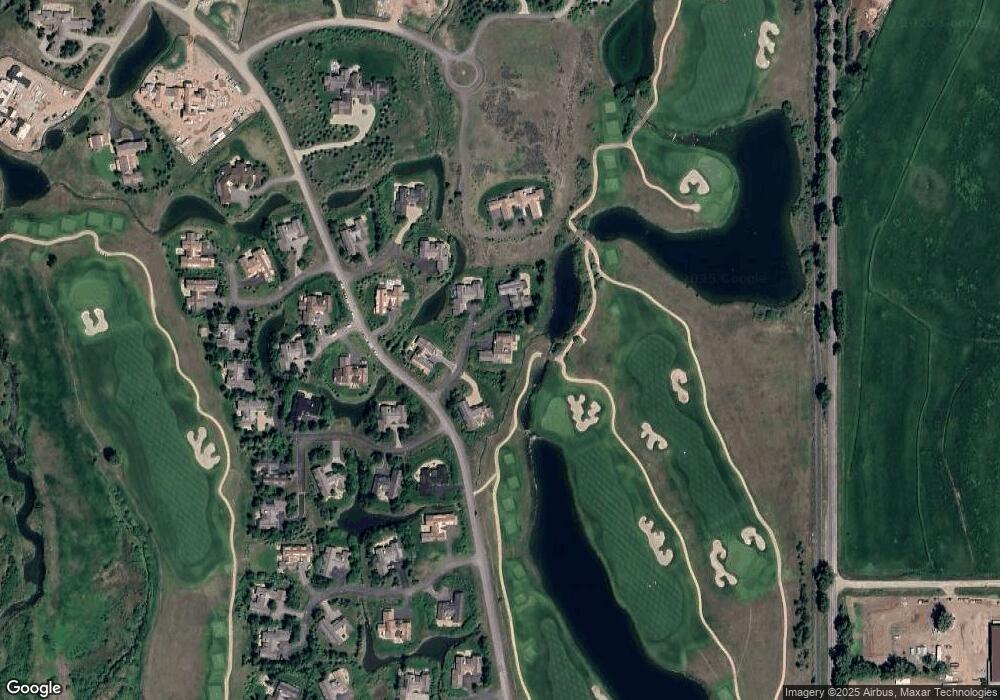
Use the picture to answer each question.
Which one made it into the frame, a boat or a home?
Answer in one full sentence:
The image shows a home.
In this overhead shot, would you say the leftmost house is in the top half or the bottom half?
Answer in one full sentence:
Seen from above, the leftmost house lies in the top half of the view.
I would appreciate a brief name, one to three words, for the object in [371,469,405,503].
house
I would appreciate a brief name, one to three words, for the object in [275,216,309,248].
house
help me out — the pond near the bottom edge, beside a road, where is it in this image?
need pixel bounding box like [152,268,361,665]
[363,612,477,700]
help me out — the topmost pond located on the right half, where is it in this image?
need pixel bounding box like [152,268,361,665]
[603,0,656,86]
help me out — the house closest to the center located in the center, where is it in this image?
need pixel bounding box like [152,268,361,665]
[479,332,521,365]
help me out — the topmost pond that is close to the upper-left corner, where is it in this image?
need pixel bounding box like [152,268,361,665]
[108,8,172,99]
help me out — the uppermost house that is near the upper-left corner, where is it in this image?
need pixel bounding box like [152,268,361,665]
[27,1,92,37]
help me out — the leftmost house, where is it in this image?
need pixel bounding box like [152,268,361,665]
[0,63,32,139]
